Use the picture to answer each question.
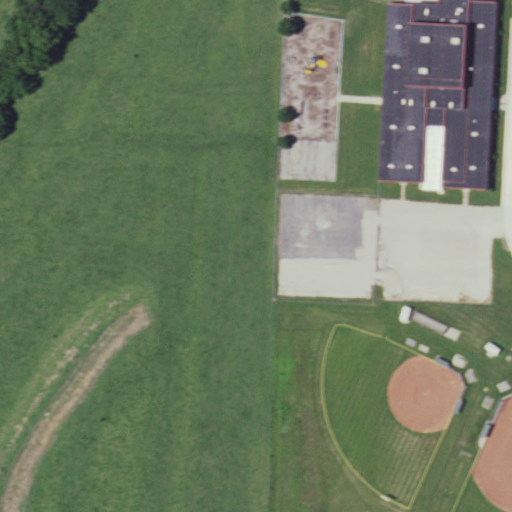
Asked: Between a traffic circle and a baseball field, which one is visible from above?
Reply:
baseball field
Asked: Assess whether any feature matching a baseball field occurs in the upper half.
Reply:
No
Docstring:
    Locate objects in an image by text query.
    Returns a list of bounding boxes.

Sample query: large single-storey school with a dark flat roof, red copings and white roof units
[378,0,498,194]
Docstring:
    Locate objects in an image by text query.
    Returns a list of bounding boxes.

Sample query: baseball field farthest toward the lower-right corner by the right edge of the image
[452,394,512,512]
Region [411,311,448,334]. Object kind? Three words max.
shed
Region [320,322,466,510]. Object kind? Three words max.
baseball field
